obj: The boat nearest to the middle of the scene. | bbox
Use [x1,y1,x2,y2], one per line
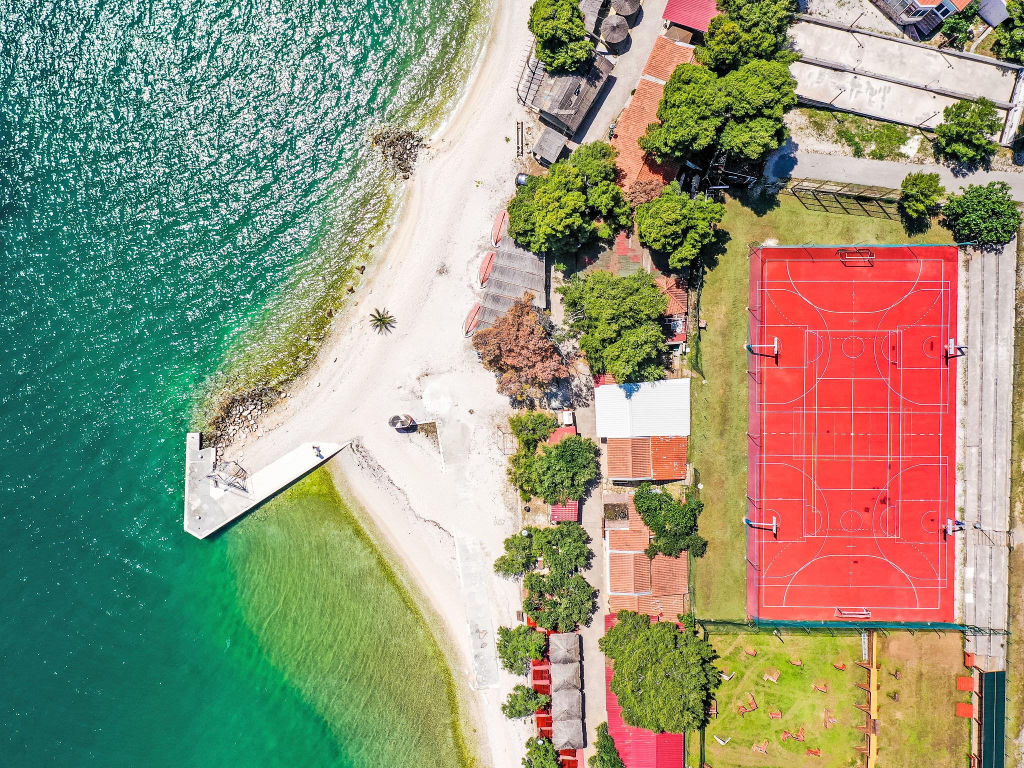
[462,301,483,338]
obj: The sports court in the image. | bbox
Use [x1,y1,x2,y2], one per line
[746,246,958,622]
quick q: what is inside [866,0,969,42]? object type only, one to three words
house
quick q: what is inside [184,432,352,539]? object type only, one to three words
pier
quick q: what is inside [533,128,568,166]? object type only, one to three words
shed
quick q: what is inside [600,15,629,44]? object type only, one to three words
umbrella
